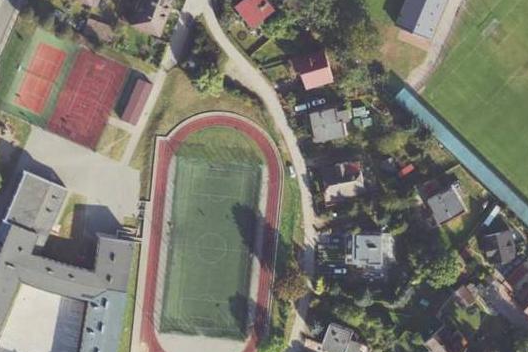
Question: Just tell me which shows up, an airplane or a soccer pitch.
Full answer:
I can see a soccer pitch in this picture.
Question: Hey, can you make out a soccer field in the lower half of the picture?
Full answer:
Yes, I can see a soccer field in the lower half of the picture.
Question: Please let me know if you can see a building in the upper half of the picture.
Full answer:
Yes, in the upper half of the picture there is a building.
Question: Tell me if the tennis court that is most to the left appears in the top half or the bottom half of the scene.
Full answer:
The top half of the photo is where the tennis court that is most to the left is.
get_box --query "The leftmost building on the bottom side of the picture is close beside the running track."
[0,171,135,352]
